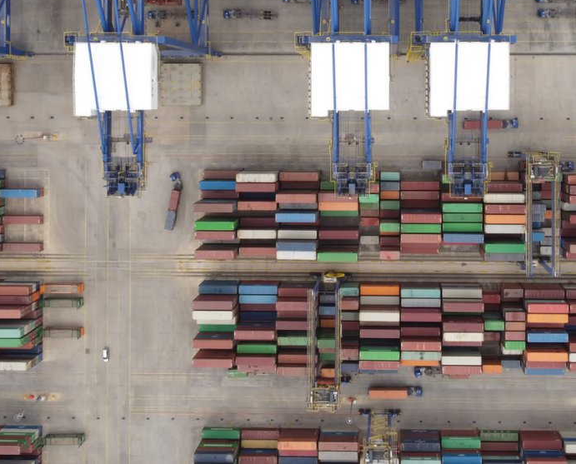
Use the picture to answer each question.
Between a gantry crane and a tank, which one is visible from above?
gantry crane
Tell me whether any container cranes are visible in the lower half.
Yes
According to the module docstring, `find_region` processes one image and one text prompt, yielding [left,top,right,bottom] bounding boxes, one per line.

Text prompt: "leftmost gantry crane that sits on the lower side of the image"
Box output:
[306,267,354,411]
